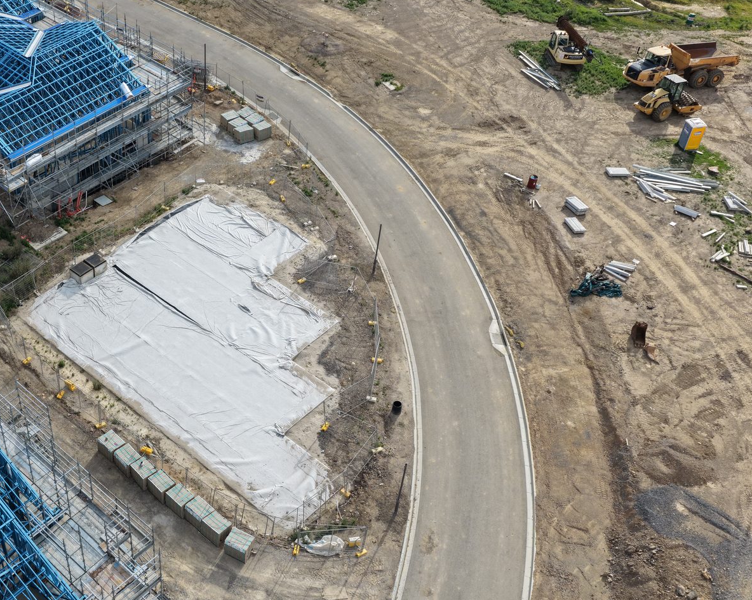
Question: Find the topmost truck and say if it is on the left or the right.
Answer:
right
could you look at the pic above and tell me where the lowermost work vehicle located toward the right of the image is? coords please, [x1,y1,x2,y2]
[633,77,712,123]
